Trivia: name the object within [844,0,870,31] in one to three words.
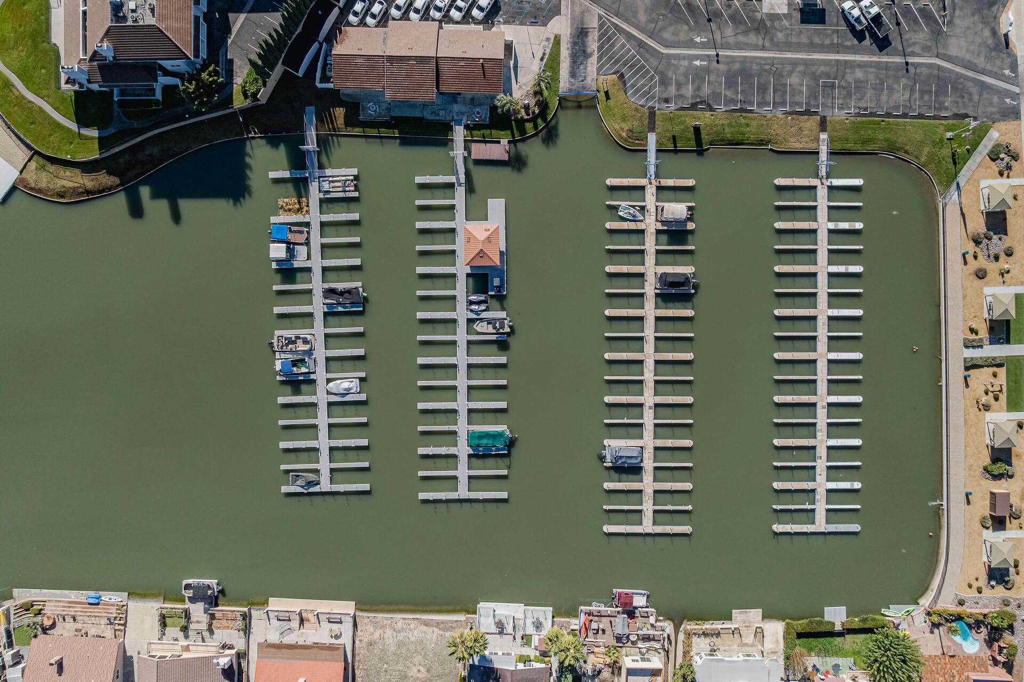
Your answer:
truck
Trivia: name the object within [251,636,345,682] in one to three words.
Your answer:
house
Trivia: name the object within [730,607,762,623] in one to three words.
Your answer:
pier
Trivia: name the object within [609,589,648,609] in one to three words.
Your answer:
boat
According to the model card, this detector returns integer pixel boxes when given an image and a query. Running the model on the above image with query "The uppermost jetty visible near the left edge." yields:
[0,159,22,206]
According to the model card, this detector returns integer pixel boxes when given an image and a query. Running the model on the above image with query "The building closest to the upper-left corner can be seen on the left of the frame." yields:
[60,0,218,103]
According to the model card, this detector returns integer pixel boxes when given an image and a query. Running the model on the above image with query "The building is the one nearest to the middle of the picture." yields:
[464,199,506,295]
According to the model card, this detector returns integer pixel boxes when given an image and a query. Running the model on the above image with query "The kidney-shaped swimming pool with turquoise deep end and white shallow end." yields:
[951,620,981,655]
